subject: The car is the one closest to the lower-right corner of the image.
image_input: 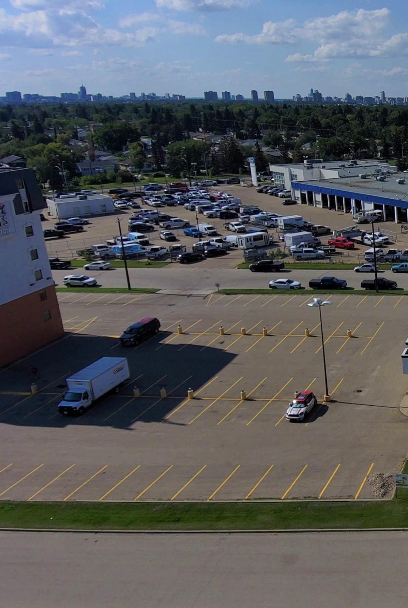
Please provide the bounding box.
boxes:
[281,394,320,423]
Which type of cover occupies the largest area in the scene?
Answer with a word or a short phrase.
paved ground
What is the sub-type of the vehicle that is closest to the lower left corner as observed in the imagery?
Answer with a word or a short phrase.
truck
